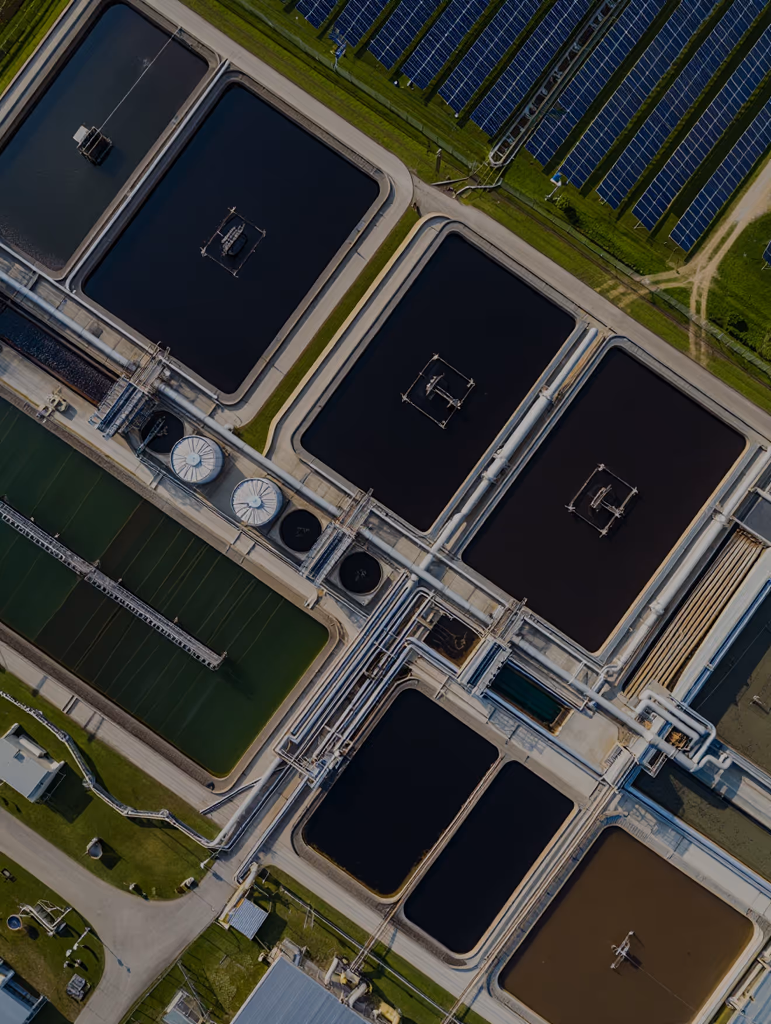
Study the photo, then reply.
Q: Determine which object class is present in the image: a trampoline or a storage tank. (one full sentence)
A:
The one in the frame is a storage tank.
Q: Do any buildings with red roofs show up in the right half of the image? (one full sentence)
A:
No, I can find no building with a red roof in the right half of the image.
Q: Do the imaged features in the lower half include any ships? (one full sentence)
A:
No, there is no ship in the lower half.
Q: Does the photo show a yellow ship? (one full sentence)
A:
No, the picture doesn't show any yellow ship.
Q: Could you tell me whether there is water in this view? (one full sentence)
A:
Yes, water shows up in the scene.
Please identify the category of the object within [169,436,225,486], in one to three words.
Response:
storage tank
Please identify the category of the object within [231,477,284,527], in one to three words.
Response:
storage tank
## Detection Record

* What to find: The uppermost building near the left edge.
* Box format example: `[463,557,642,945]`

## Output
[0,717,76,802]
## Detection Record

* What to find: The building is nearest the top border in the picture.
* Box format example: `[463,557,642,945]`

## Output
[740,496,771,541]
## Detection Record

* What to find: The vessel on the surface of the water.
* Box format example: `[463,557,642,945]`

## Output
[71,120,112,162]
